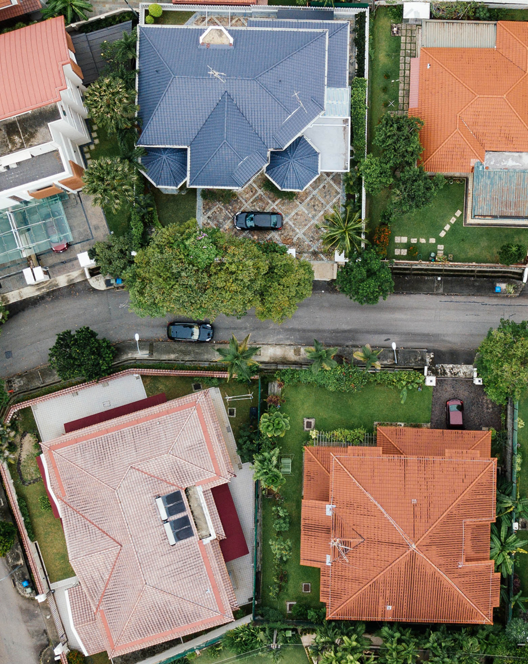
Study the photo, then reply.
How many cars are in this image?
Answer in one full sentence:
In total, 4 cars can be seen.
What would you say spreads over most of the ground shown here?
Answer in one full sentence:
The scene is dominated by buildings.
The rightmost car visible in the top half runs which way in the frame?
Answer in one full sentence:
What the image shows is the rightmost car visible in the top half lying horizontally.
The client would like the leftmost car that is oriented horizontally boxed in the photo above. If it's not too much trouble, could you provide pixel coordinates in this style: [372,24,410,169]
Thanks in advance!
[165,319,216,343]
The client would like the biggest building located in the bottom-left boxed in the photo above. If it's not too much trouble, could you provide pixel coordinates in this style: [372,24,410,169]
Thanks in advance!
[35,388,249,659]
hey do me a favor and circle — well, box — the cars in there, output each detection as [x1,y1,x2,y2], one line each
[235,208,284,232]
[40,211,72,258]
[443,394,466,430]
[165,319,216,343]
